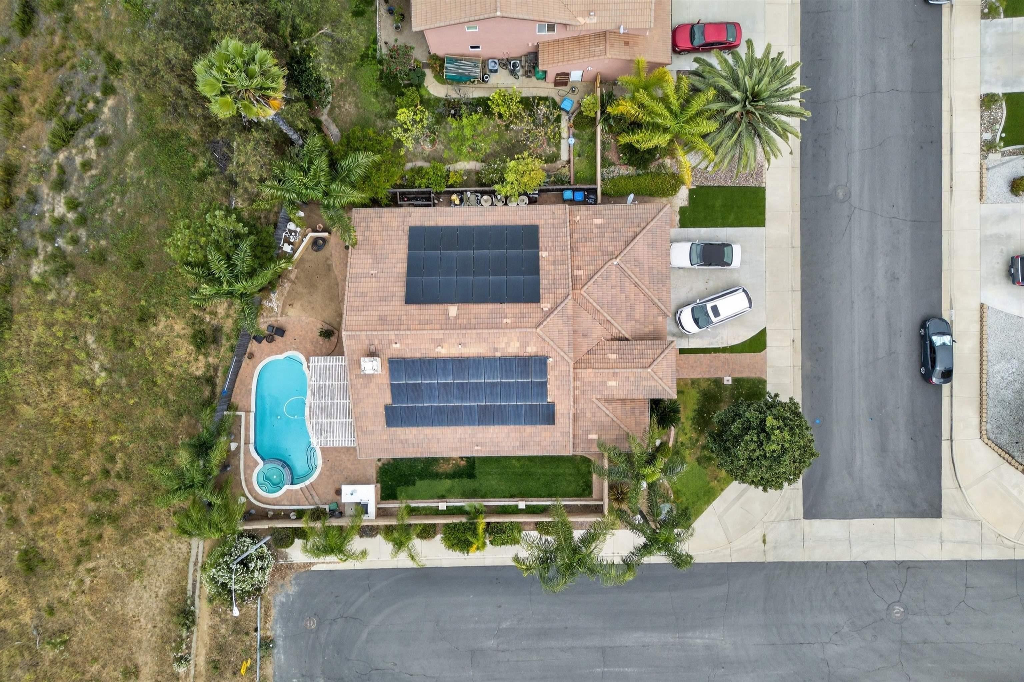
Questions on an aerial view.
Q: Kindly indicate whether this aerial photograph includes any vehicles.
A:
Yes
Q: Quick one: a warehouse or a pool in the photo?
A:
pool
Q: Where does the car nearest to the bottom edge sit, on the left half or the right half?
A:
right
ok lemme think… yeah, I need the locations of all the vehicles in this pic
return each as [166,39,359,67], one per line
[919,317,958,384]
[1005,256,1024,285]
[923,0,951,6]
[672,15,741,53]
[670,239,741,272]
[672,285,752,335]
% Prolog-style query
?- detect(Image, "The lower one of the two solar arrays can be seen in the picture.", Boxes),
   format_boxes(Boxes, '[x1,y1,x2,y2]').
[385,357,555,427]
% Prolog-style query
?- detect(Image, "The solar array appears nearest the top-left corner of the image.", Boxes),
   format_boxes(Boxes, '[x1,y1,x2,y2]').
[405,225,539,304]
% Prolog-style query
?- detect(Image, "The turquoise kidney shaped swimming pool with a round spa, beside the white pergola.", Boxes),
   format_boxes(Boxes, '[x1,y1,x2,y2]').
[249,352,322,498]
